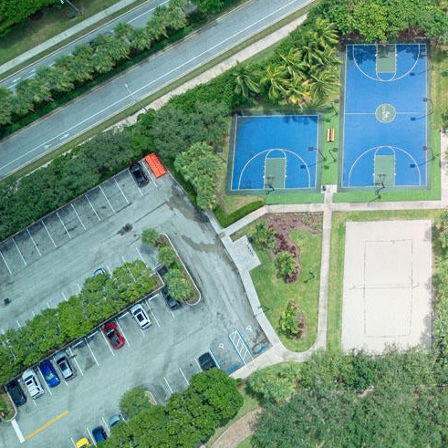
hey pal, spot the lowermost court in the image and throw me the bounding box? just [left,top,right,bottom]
[341,220,432,361]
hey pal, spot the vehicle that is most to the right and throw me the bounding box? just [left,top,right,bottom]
[199,351,221,376]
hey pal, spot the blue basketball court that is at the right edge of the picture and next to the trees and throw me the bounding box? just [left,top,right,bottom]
[337,41,431,192]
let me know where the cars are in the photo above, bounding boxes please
[40,359,61,387]
[5,377,30,407]
[161,289,183,311]
[104,322,125,350]
[55,353,76,380]
[130,304,152,329]
[78,436,94,448]
[22,370,46,399]
[110,413,132,435]
[199,351,221,376]
[129,164,150,188]
[92,424,110,444]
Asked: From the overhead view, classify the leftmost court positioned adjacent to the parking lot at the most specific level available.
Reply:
basketball court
